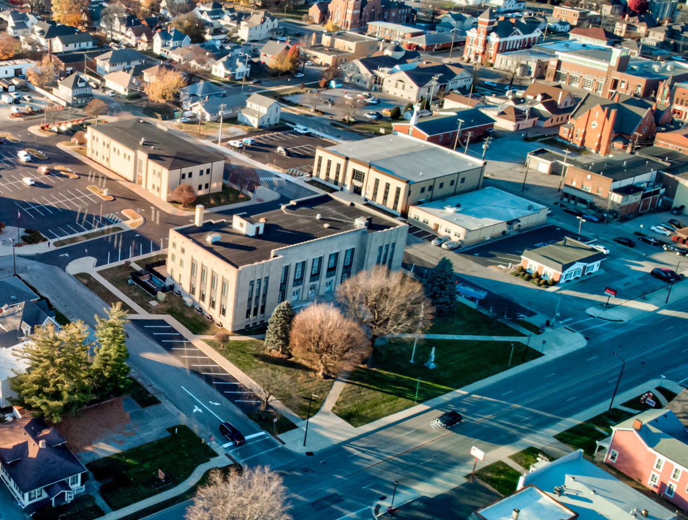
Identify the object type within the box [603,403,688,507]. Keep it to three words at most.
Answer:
house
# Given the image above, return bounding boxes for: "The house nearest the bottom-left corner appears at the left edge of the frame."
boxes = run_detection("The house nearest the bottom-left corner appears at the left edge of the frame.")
[0,417,92,507]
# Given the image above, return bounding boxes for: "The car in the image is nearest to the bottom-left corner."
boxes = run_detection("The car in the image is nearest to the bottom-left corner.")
[218,422,247,445]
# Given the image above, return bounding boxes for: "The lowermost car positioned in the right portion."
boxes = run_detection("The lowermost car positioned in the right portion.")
[432,412,460,429]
